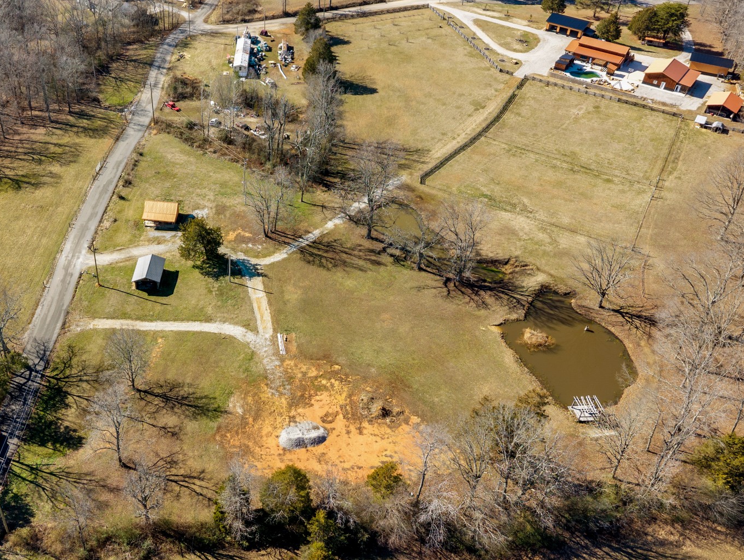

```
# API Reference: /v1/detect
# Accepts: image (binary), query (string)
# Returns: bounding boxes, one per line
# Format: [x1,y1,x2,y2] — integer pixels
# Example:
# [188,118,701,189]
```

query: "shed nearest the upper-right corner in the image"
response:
[688,52,734,75]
